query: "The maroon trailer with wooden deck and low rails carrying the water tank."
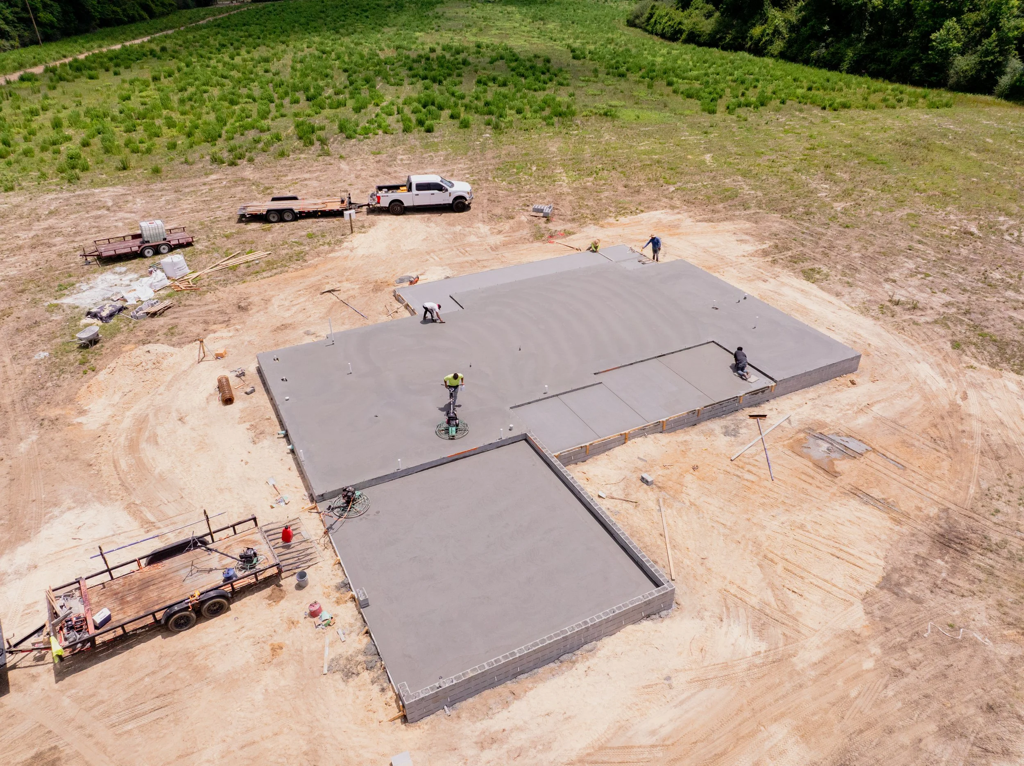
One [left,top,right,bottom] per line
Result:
[74,226,194,261]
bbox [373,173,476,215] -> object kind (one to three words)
truck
